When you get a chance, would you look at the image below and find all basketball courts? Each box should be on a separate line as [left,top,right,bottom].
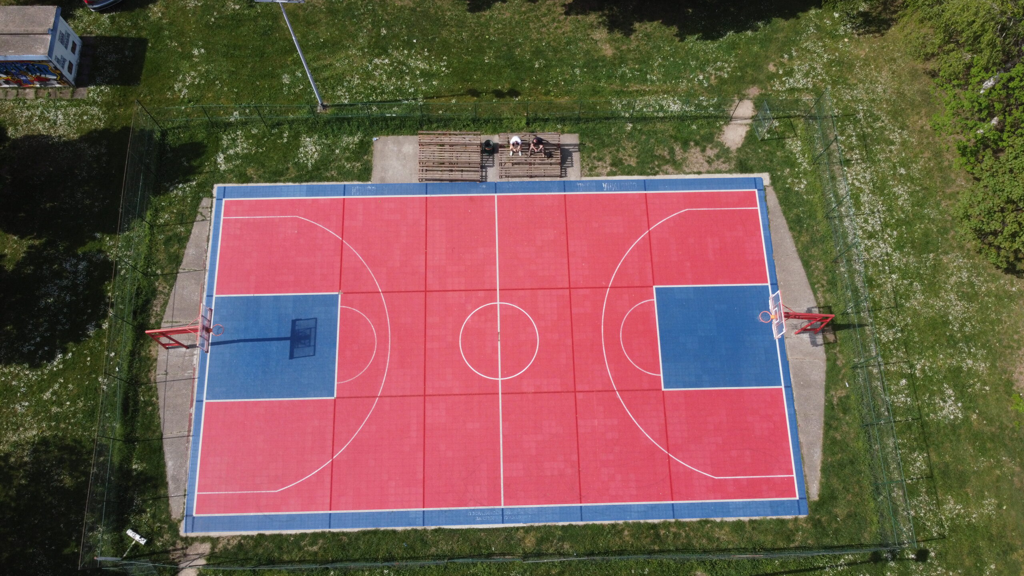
[184,177,809,532]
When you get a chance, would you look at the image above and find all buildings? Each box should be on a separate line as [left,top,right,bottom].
[0,3,83,87]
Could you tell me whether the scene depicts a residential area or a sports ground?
sports ground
